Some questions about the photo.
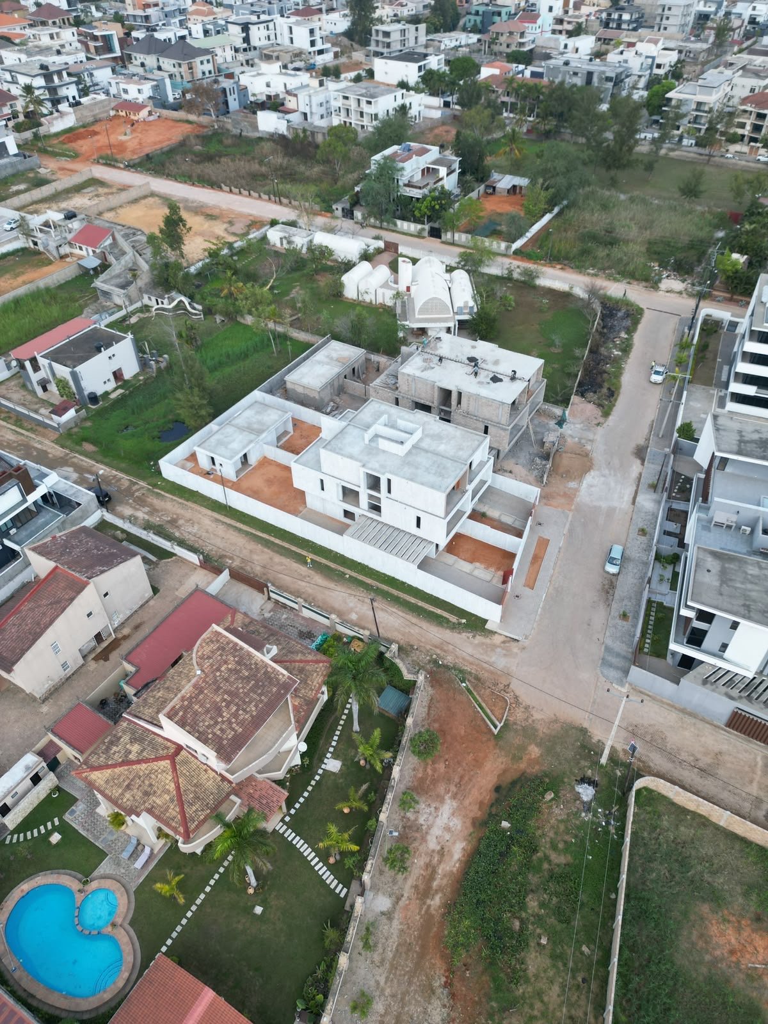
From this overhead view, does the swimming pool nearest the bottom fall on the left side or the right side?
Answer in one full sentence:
It is on the left.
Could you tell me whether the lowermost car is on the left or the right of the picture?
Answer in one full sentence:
The lowermost car is on the right side of the image.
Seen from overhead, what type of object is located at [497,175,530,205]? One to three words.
shed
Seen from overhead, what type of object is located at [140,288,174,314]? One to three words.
house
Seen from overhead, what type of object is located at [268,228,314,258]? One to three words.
building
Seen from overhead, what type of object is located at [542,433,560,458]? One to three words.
shed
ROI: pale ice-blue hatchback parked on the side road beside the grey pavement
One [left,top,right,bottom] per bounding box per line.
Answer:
[604,542,625,574]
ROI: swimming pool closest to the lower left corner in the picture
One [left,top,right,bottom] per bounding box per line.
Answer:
[0,868,141,1020]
